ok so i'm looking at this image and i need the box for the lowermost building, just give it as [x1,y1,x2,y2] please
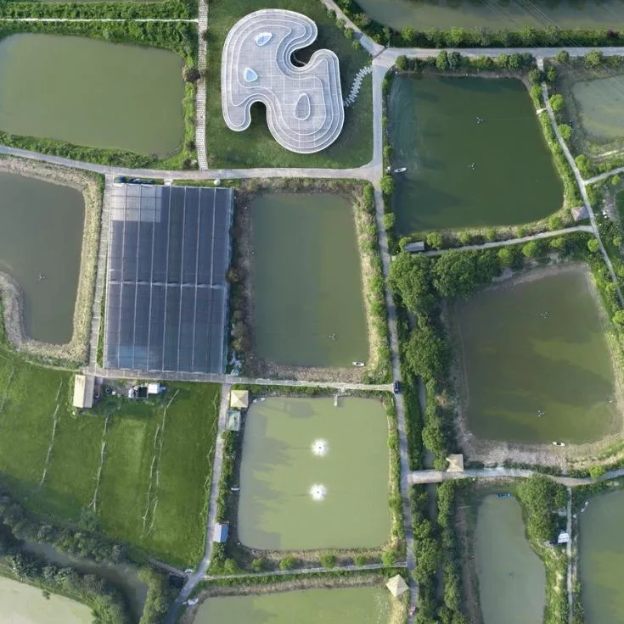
[385,571,410,596]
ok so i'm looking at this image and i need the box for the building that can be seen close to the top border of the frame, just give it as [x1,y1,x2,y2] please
[221,8,345,153]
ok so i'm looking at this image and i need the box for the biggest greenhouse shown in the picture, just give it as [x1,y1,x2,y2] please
[104,183,236,375]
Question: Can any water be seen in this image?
Yes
